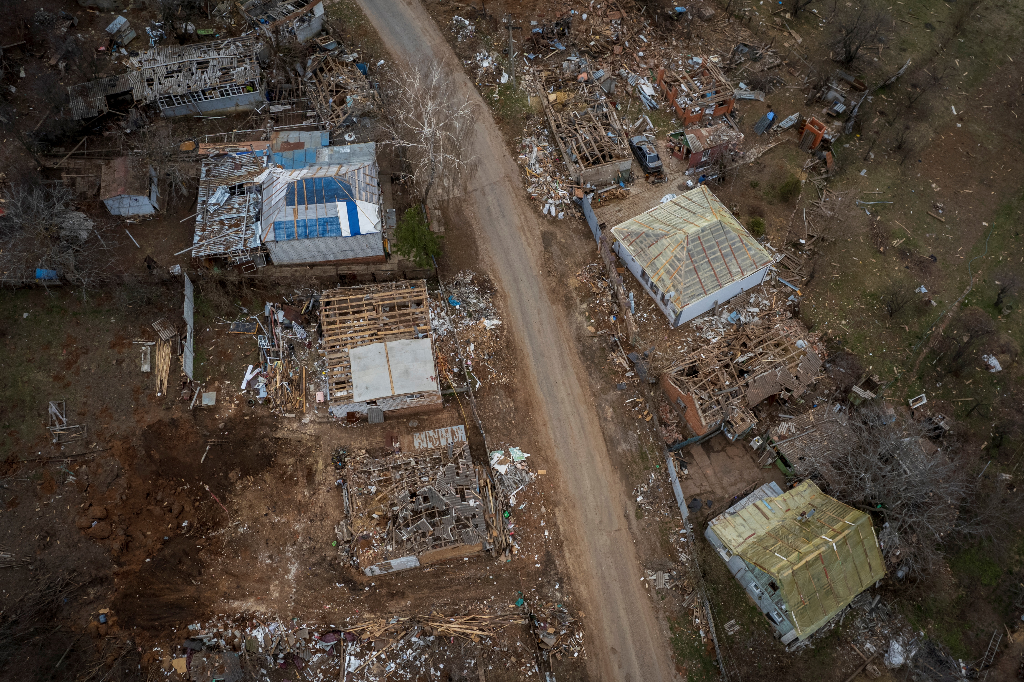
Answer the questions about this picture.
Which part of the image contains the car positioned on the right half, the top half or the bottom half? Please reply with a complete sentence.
The car positioned on the right half sits in the top half of the picture.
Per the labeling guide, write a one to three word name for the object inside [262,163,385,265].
house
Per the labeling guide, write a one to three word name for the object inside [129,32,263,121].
building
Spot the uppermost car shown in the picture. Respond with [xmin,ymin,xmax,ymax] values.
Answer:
[631,135,665,172]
